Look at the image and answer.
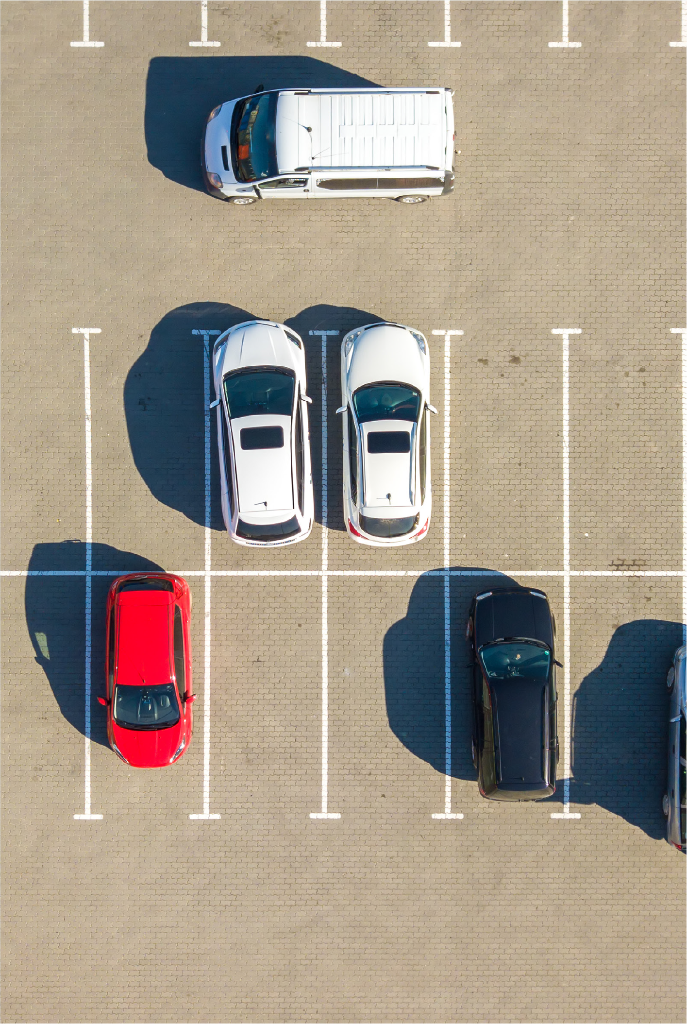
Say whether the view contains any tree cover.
No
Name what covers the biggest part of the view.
paved ground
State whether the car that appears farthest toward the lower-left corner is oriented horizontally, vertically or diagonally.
vertically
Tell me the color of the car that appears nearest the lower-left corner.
red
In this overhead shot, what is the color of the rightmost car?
black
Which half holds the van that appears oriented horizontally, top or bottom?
top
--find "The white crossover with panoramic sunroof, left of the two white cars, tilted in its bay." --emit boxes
[209,319,315,548]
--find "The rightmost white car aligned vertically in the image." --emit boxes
[336,322,438,547]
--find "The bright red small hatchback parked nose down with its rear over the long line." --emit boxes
[96,572,197,768]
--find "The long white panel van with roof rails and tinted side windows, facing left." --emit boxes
[201,84,459,206]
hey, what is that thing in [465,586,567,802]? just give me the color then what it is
black car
